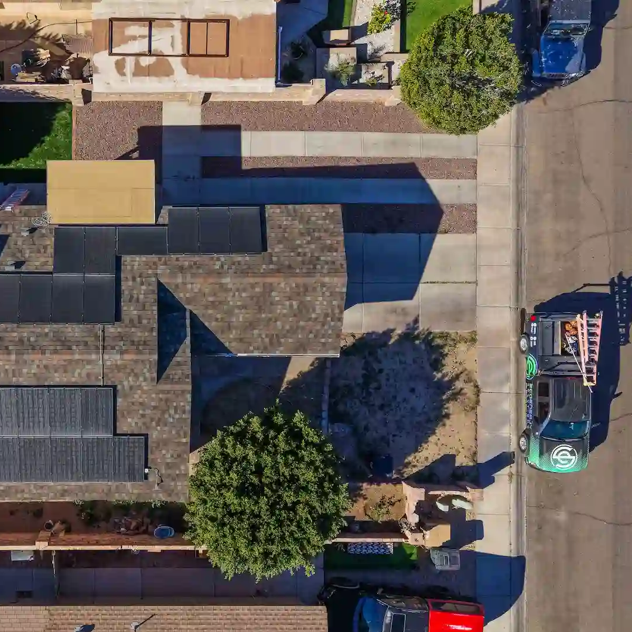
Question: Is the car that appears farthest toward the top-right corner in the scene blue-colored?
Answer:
Yes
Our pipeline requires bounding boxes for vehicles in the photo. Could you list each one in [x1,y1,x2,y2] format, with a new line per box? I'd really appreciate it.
[314,582,484,632]
[521,0,591,82]
[517,312,596,471]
